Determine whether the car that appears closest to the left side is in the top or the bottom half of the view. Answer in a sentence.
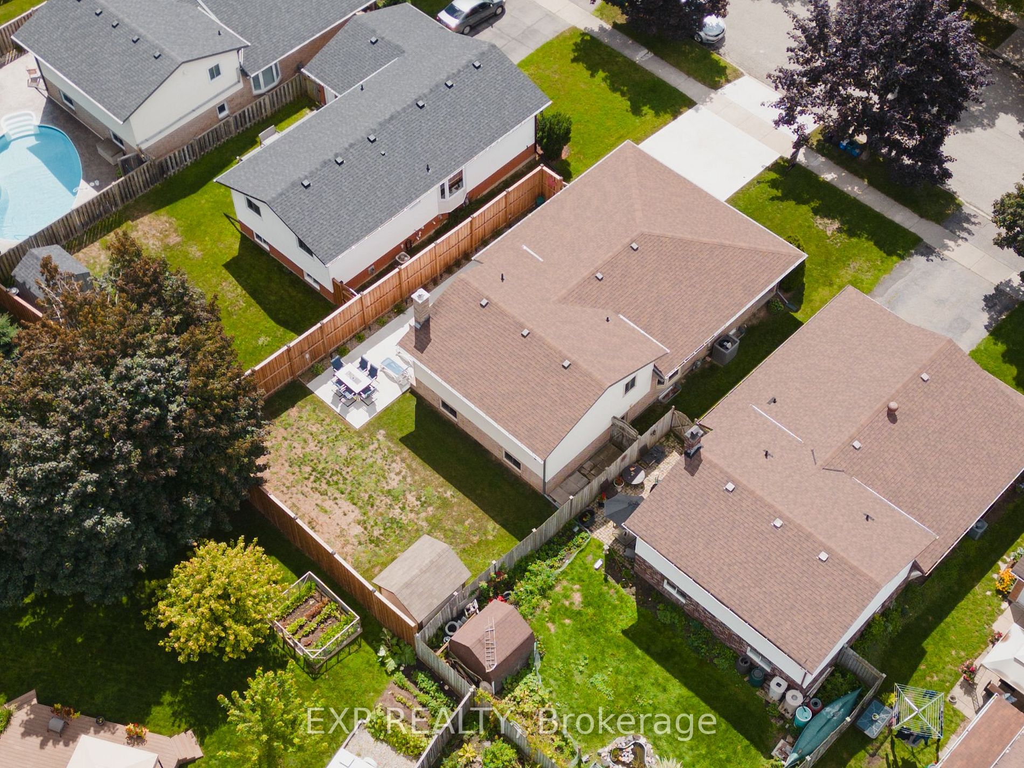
The car that appears closest to the left side is in the top half of the image.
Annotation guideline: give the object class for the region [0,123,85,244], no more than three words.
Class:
swimming pool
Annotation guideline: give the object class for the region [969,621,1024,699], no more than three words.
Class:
gazebo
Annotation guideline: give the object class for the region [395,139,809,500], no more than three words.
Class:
house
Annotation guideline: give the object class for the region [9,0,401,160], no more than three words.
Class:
house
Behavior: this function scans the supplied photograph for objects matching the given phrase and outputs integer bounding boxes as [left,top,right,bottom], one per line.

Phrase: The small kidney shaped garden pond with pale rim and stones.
[592,726,661,768]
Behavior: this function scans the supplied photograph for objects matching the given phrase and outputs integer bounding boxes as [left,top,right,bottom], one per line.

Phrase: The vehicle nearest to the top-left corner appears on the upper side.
[435,0,503,32]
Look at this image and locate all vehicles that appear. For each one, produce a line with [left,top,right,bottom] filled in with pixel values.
[681,9,724,40]
[435,0,503,32]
